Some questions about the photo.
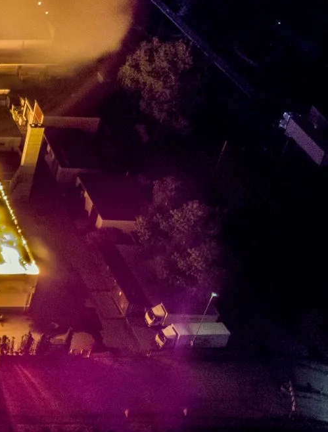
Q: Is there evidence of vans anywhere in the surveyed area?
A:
Yes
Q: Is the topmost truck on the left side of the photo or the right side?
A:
right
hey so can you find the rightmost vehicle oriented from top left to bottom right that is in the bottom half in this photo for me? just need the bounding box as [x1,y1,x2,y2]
[68,326,97,362]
